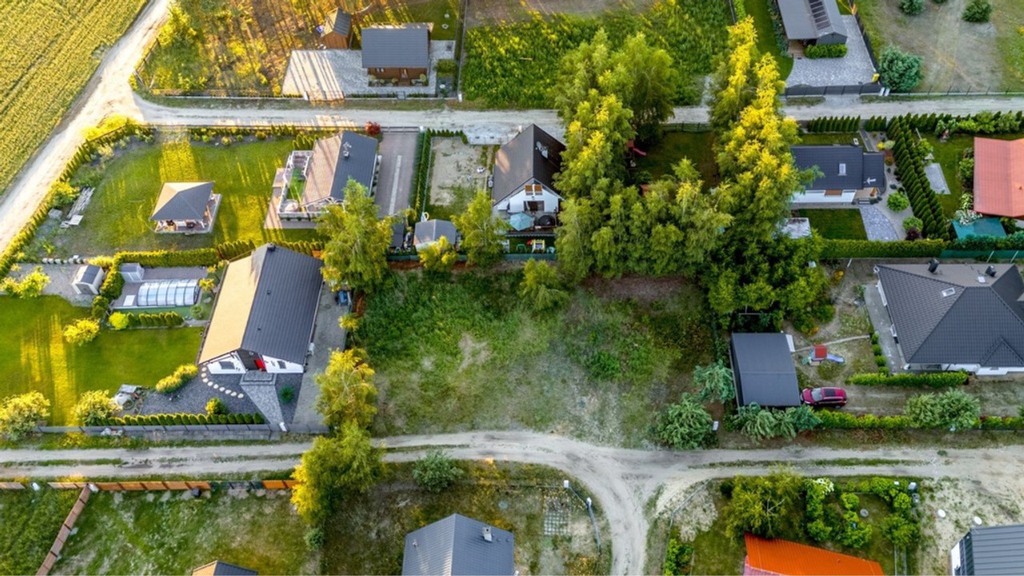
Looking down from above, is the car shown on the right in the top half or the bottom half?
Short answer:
bottom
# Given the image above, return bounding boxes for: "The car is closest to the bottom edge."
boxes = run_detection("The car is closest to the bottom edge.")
[802,388,853,411]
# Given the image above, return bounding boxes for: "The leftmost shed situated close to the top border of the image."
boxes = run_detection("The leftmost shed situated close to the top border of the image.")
[319,8,353,50]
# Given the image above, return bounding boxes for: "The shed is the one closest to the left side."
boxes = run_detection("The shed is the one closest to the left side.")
[67,263,103,296]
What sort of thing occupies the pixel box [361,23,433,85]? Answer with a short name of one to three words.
building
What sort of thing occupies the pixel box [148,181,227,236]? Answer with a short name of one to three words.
gazebo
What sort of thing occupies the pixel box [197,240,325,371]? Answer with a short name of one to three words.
house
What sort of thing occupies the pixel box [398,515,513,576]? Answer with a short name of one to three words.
house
